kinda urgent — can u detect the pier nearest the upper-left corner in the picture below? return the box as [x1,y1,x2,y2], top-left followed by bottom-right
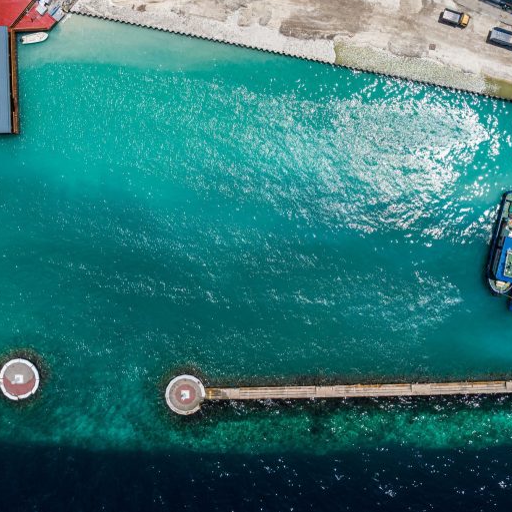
[0,31,23,135]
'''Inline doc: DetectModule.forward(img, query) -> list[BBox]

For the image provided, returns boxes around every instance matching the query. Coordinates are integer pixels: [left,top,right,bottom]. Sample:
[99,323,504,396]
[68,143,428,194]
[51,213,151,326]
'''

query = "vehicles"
[488,24,512,45]
[438,6,472,26]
